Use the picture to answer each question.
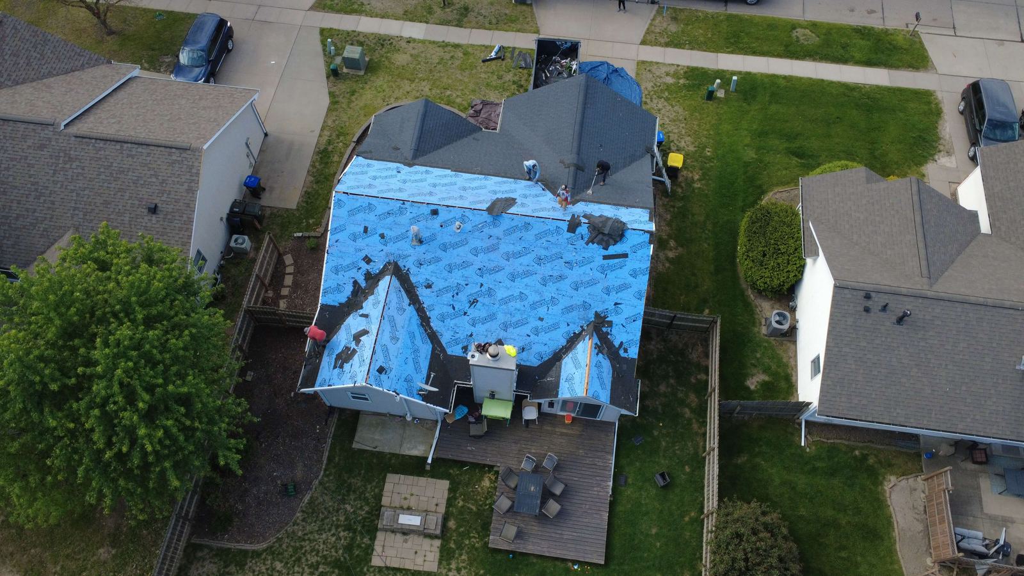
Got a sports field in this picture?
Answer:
No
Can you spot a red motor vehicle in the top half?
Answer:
No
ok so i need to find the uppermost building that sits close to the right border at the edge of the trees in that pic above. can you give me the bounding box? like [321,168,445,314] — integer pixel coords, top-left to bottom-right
[793,140,1024,452]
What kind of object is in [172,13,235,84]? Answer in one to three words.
car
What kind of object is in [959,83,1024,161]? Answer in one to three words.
car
